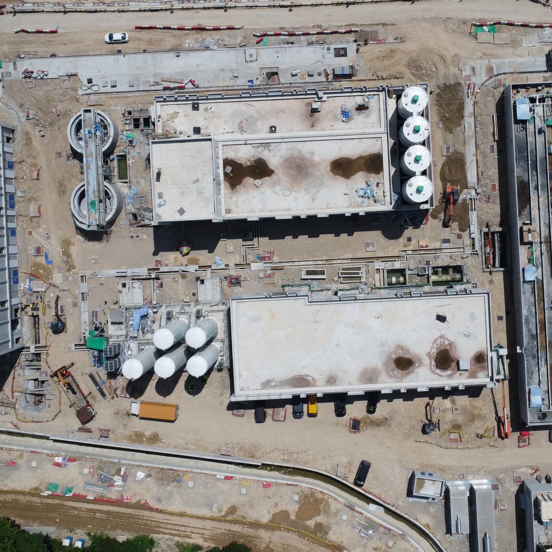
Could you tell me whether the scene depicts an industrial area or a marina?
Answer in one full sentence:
This looks like an industrial area.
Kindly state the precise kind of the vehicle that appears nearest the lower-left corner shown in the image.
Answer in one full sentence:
I'd say the vehicle that appears nearest the lower-left corner is a truck.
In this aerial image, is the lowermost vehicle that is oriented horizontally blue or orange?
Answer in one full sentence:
The lowermost vehicle that is oriented horizontally looks orange in the image.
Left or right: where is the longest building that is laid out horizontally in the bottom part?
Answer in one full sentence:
It is on the right.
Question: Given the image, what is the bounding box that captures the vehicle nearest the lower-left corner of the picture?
[44,362,97,424]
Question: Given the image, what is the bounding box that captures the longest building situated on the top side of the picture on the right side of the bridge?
[150,86,433,225]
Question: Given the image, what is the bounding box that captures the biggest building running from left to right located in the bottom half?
[231,281,509,401]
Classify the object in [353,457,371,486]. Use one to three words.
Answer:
vehicle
